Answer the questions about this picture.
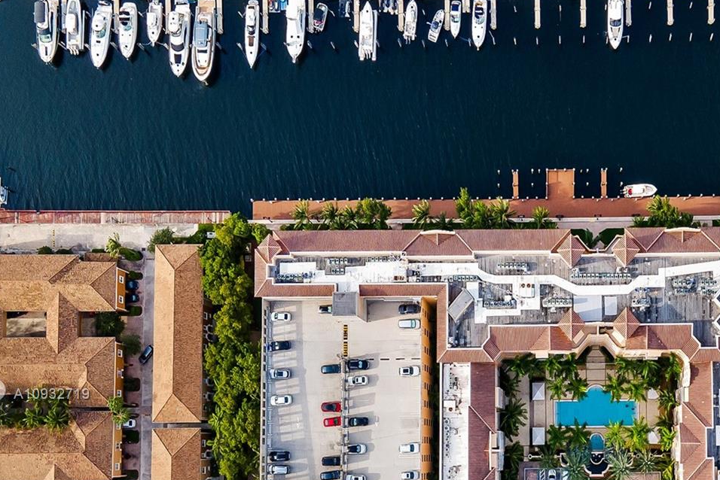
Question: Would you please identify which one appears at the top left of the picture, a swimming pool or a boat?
boat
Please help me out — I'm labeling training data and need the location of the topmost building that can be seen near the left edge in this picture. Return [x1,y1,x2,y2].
[0,254,131,407]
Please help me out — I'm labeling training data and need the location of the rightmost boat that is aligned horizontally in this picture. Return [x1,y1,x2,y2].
[622,185,656,198]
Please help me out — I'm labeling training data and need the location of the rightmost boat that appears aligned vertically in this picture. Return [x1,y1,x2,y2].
[607,0,624,51]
